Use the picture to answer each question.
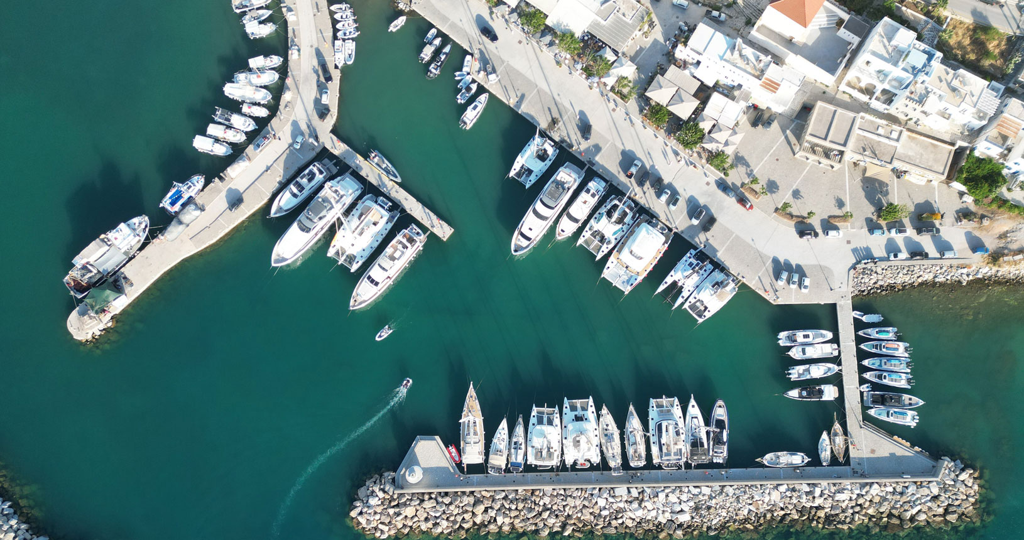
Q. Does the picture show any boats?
Yes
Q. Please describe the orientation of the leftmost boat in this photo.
at an angle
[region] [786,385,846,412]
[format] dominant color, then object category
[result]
white boat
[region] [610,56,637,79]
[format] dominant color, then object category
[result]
white tent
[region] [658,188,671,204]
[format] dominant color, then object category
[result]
white vehicle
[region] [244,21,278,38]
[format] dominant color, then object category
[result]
white boat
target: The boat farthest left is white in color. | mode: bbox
[65,216,164,306]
